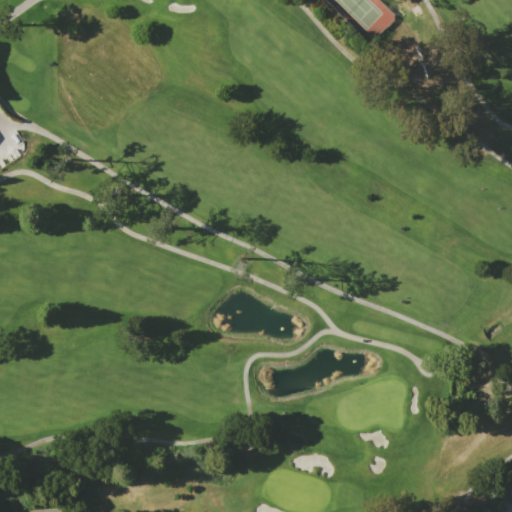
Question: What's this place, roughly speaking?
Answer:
golf course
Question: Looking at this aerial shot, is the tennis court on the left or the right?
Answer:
right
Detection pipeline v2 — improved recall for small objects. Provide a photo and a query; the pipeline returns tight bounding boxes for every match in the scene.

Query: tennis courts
[331,0,393,40]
